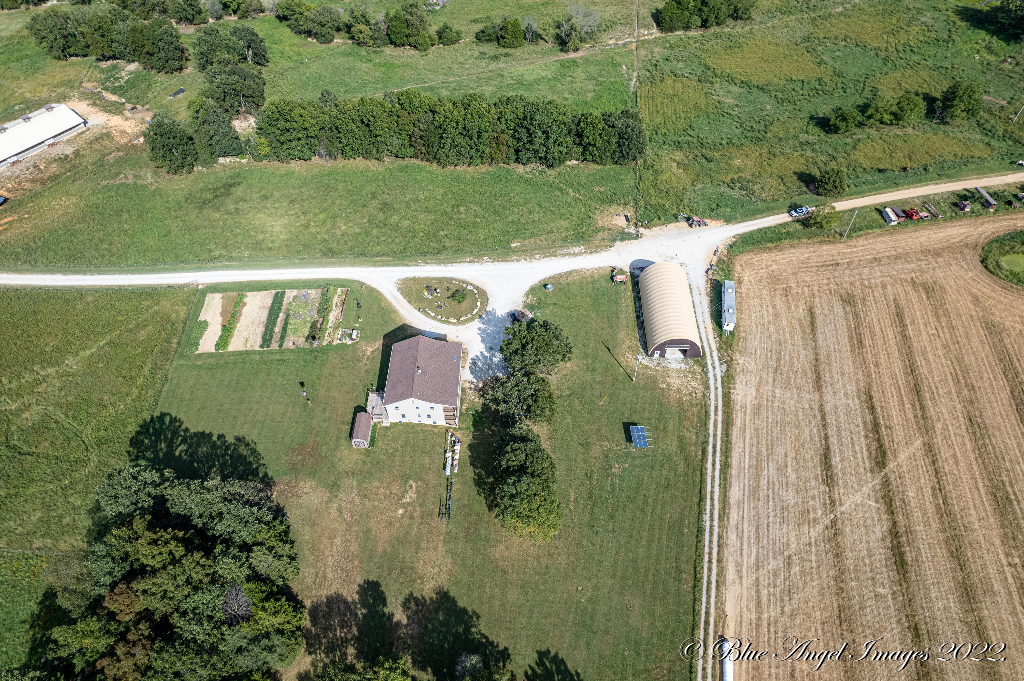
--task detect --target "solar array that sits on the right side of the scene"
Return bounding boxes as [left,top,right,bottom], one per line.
[630,426,648,450]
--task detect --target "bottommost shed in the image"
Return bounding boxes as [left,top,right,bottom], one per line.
[350,412,372,448]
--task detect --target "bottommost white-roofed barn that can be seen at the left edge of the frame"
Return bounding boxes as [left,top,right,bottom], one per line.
[0,99,88,171]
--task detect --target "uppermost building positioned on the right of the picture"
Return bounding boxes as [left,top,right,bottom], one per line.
[639,260,703,360]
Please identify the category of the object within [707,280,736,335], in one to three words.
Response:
trailer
